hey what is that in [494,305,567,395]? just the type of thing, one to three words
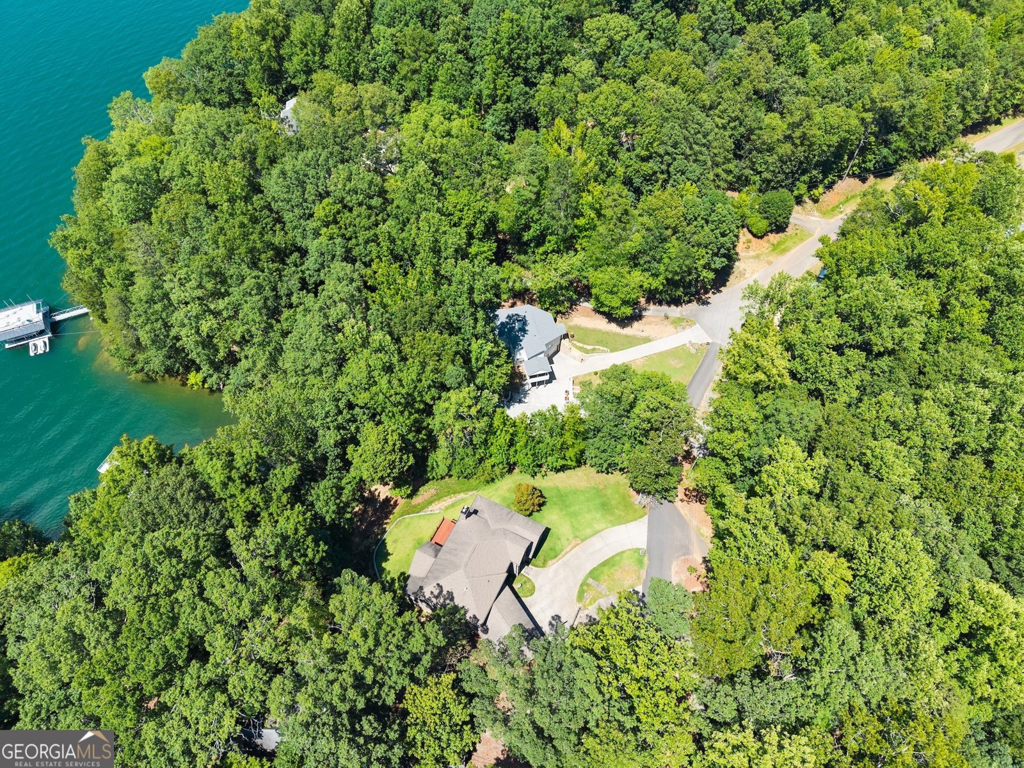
house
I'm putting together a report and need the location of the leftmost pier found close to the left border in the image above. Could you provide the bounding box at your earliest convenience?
[0,299,52,348]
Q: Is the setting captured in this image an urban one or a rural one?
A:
rural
